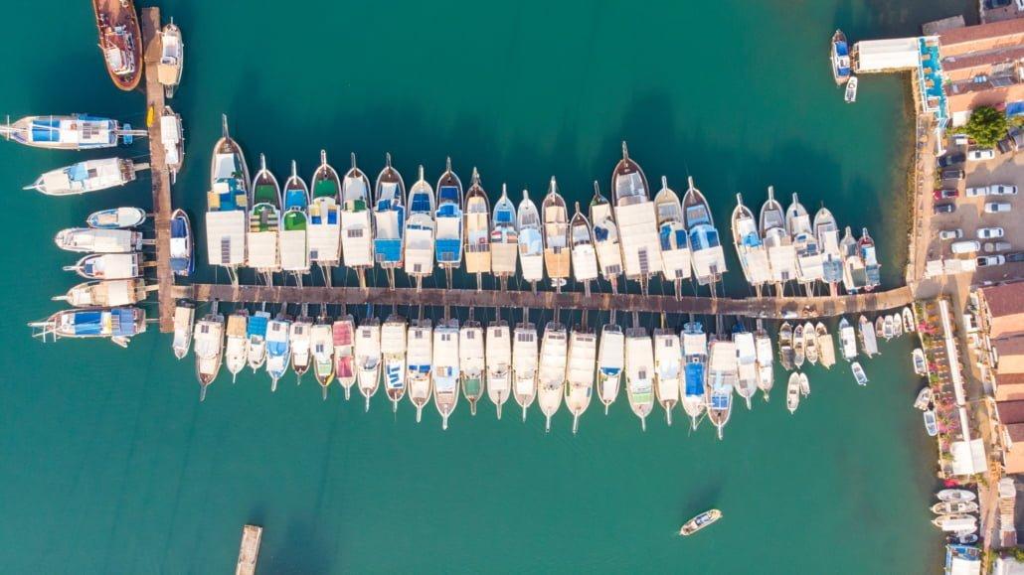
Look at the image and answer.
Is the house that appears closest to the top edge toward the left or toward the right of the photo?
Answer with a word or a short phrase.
right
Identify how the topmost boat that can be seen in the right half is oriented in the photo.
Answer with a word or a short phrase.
vertically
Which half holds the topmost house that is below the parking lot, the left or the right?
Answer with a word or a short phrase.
right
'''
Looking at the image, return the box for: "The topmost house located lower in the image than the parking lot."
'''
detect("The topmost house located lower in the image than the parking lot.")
[966,284,1024,339]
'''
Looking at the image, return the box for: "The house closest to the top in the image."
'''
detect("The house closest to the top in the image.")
[936,18,1024,58]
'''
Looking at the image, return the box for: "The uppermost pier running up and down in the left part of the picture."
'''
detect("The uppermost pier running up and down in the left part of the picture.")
[146,7,174,332]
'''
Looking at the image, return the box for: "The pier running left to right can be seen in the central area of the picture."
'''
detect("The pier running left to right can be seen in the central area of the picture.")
[175,285,913,319]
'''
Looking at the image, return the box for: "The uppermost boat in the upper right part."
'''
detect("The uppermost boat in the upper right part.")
[827,29,850,86]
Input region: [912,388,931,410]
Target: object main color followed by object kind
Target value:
white boat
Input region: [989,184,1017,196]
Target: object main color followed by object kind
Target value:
white vehicle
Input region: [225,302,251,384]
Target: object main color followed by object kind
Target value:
white boat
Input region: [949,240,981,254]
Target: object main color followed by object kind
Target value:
white vehicle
